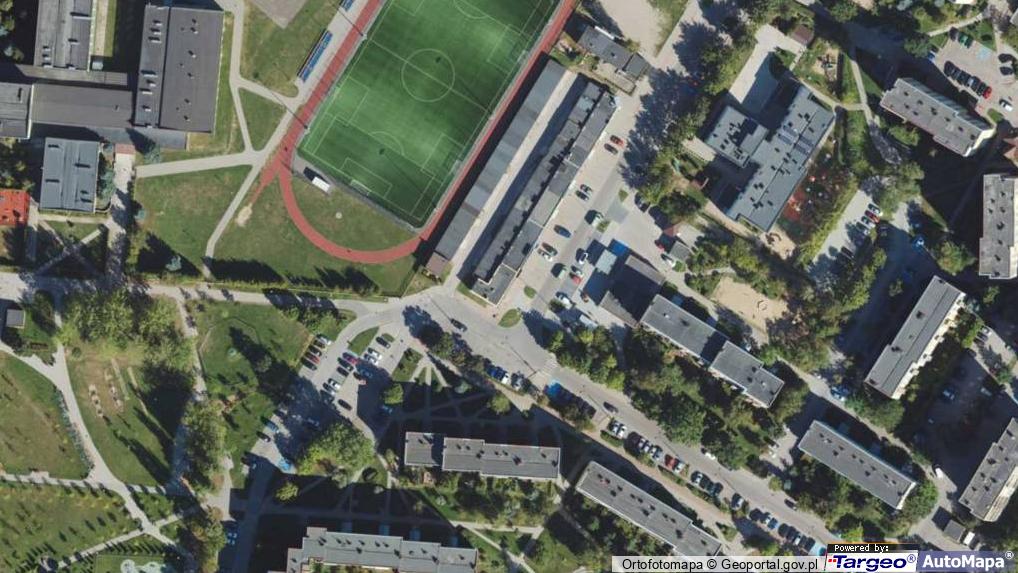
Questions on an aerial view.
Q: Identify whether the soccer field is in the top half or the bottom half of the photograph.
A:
top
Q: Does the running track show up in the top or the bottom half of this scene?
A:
top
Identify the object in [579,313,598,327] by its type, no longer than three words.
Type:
vehicle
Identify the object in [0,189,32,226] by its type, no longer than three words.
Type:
house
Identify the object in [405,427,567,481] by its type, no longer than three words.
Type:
building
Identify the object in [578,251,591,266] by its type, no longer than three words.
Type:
vehicle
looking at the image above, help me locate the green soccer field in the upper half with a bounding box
[299,0,561,225]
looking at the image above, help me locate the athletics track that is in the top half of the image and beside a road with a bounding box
[251,0,578,263]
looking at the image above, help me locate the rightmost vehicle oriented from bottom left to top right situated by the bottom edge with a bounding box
[962,529,976,547]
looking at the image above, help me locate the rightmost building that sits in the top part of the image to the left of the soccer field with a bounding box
[135,5,228,133]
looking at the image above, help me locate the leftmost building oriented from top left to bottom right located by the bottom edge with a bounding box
[577,461,728,573]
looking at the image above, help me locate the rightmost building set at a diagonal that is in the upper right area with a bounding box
[881,76,988,158]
